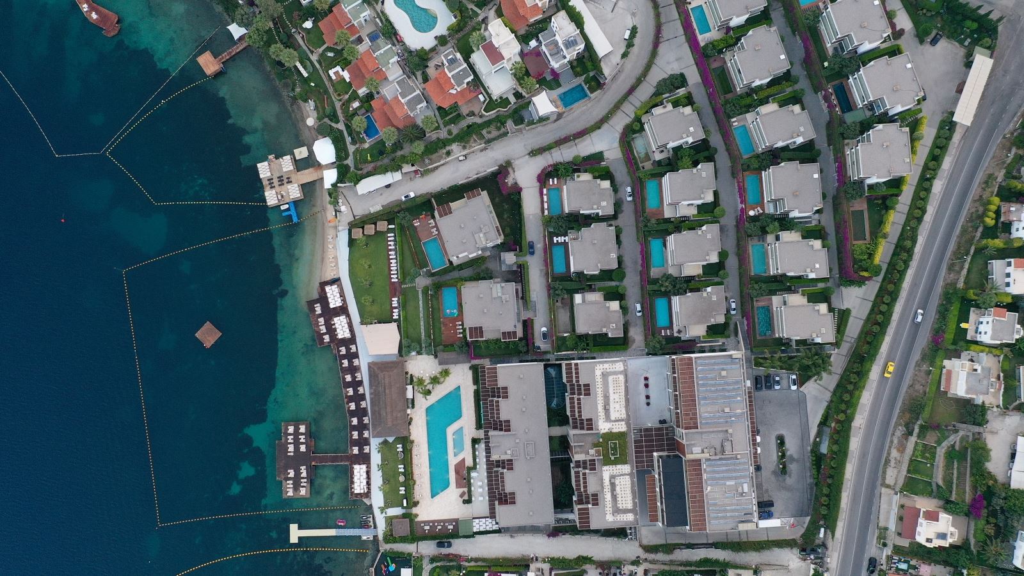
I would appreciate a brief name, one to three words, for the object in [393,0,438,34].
swimming pool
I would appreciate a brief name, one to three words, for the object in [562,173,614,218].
house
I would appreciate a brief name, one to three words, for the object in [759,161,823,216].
house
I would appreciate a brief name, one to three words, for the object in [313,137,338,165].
tent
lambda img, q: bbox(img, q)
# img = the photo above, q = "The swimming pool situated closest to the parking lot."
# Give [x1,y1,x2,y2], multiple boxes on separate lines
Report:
[755,305,773,338]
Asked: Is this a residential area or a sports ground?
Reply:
residential area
